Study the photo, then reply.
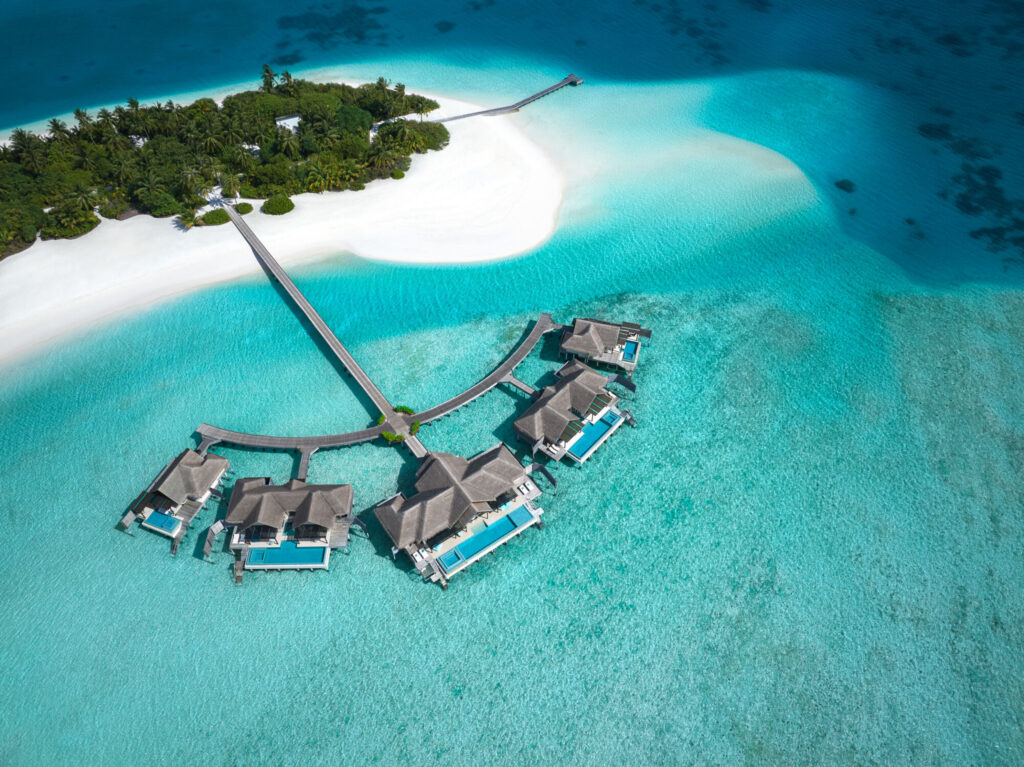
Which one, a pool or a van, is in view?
pool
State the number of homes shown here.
5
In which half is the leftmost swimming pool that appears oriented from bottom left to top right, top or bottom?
bottom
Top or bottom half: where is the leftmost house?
bottom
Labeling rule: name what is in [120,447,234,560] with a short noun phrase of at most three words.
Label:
house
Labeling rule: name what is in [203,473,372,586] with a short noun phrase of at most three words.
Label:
house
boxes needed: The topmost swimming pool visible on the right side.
[622,340,642,367]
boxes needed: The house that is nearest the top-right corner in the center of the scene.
[562,317,651,380]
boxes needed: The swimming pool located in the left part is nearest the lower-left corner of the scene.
[142,510,187,540]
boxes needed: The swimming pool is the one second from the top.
[567,409,623,464]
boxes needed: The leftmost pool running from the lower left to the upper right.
[435,504,538,578]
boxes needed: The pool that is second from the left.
[244,541,331,569]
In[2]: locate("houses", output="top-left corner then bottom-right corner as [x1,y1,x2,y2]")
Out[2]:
[562,317,651,380]
[512,361,637,468]
[375,441,557,595]
[203,473,372,586]
[120,447,234,560]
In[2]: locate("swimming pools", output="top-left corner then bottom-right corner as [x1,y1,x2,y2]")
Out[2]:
[244,541,331,569]
[622,340,642,367]
[435,504,538,578]
[142,510,187,540]
[567,409,623,464]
